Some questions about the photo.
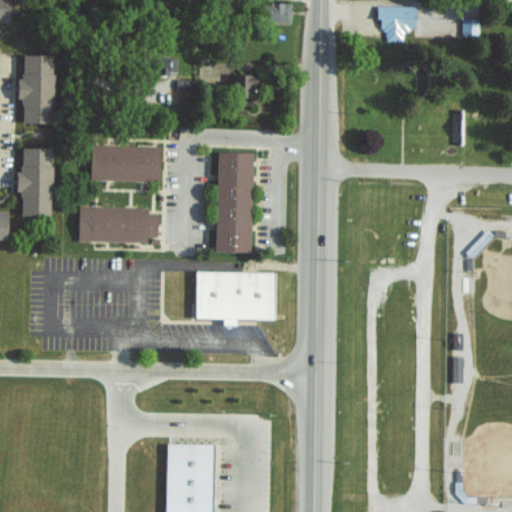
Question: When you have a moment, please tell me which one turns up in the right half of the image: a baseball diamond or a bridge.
baseball diamond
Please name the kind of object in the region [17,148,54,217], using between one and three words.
building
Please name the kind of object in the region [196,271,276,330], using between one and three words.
building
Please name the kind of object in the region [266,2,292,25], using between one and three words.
house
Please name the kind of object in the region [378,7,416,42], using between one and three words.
house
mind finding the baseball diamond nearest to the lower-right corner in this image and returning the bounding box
[464,378,512,498]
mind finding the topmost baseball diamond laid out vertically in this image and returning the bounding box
[475,241,512,376]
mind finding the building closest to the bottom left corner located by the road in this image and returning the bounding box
[168,443,215,512]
